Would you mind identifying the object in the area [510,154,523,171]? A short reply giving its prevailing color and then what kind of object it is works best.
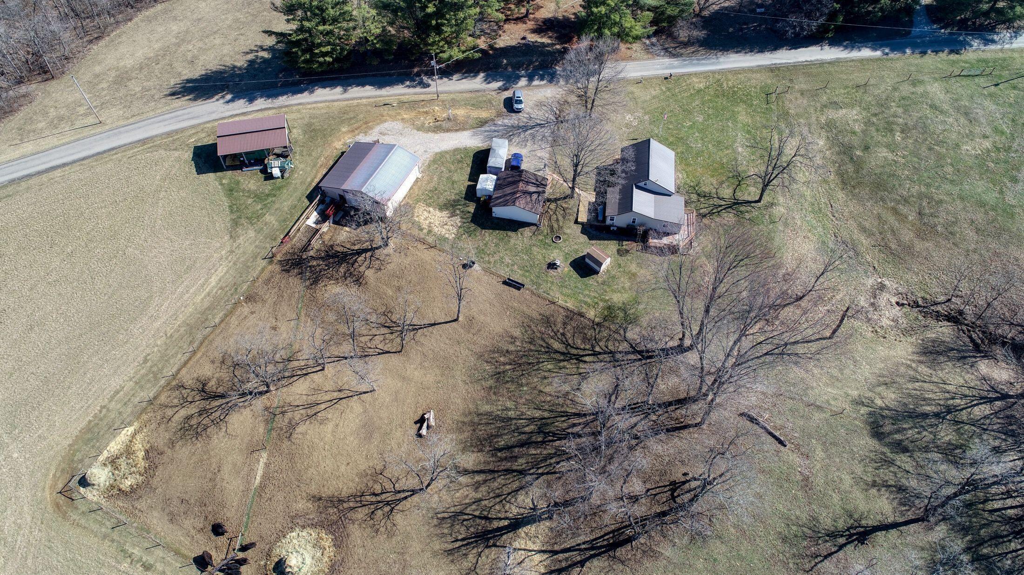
blue vehicle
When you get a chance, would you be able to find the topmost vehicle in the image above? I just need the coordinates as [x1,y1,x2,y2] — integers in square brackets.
[512,90,524,109]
